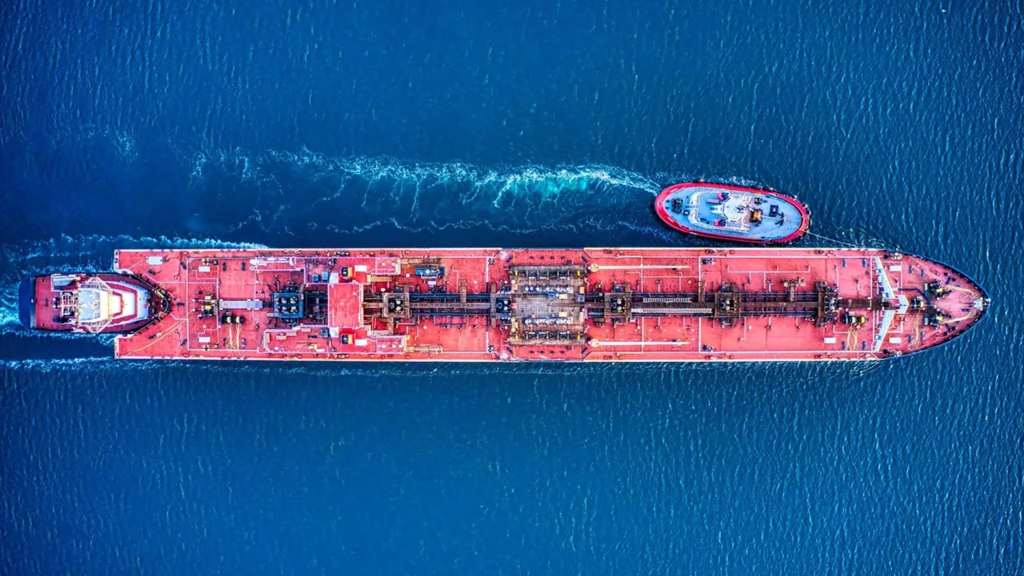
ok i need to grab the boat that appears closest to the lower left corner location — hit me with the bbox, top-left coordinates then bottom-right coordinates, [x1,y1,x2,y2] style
[17,273,166,335]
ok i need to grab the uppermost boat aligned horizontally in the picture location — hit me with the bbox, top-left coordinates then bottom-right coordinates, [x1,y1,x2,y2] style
[652,179,813,248]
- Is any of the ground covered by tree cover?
No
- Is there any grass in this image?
No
